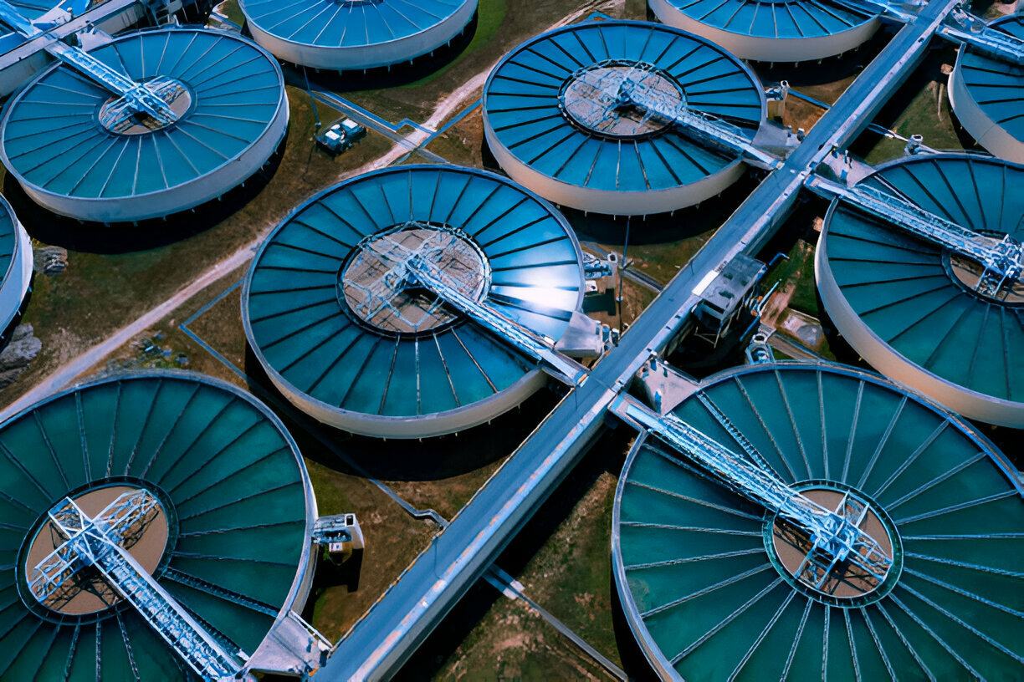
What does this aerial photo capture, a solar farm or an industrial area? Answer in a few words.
industrial area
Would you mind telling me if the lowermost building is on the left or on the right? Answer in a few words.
left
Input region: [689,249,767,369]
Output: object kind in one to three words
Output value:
building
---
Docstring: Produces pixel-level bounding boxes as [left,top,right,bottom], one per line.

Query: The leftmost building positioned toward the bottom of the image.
[303,515,369,558]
